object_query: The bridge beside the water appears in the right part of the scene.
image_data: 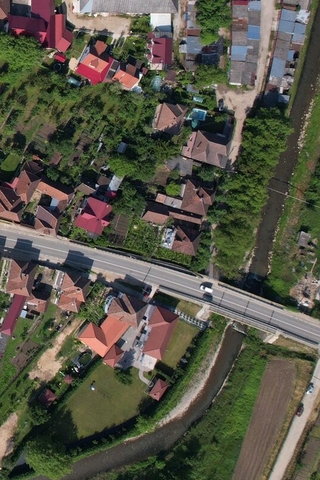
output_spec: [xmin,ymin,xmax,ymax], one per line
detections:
[193,277,320,354]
